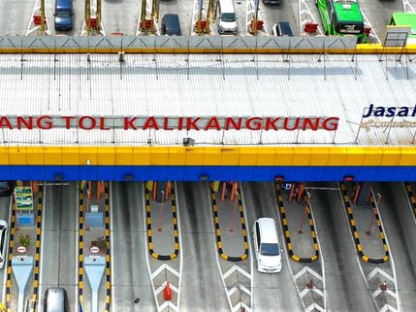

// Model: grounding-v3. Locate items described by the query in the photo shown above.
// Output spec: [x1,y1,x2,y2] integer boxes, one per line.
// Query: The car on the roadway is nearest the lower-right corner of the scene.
[250,210,284,268]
